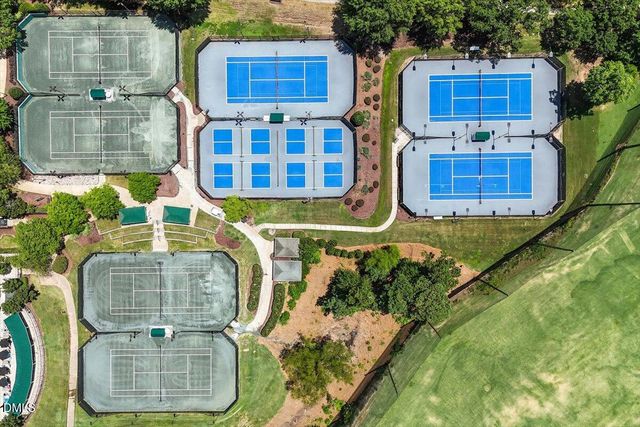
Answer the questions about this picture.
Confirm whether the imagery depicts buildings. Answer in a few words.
Yes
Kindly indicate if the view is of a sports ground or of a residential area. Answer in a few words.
sports ground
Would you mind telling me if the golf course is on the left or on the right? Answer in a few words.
right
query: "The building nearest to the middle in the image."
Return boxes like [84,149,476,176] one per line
[274,238,300,258]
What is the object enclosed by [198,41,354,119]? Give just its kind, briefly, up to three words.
tennis court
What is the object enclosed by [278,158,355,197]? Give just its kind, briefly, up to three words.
sports court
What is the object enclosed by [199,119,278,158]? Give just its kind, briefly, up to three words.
sports court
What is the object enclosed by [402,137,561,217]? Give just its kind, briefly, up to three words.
tennis court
